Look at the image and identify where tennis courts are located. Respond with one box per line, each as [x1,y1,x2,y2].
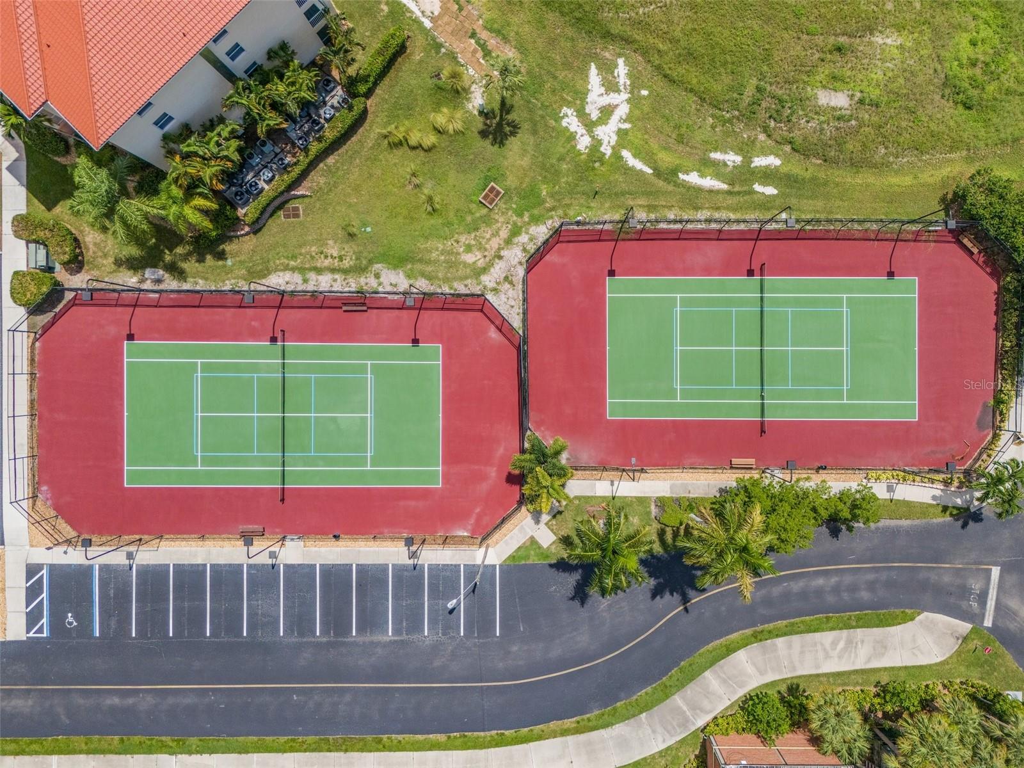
[36,294,520,536]
[527,230,998,467]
